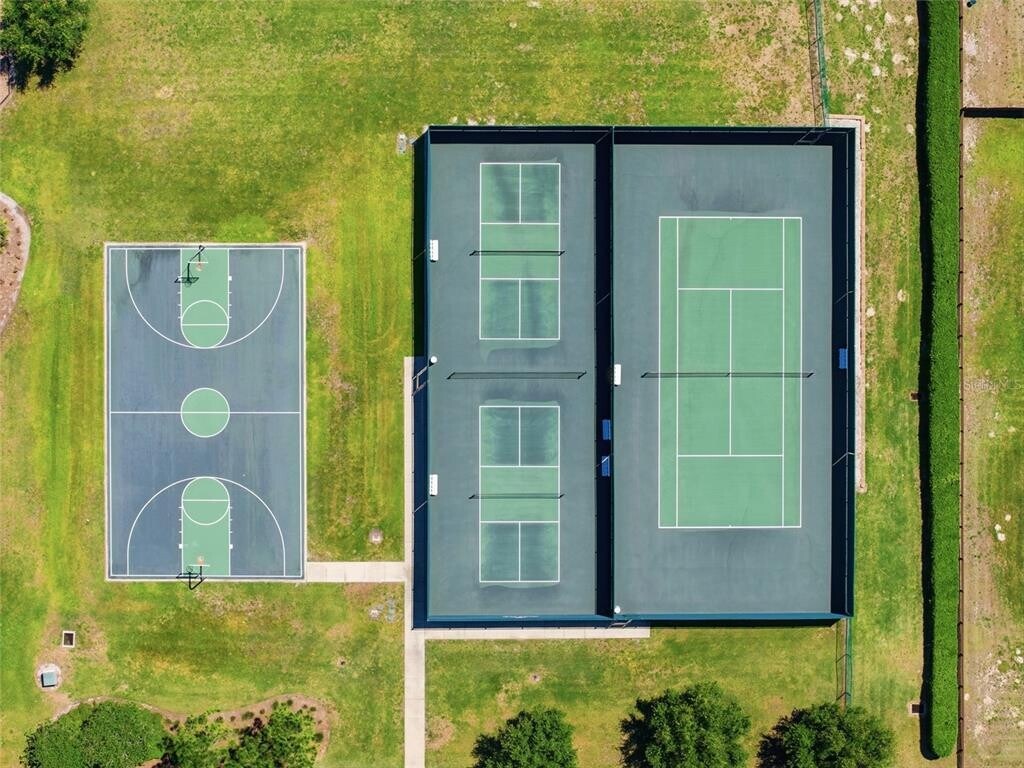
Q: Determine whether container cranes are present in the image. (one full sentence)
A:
No, the frame has no container crane in it.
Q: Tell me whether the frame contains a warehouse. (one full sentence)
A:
No, the scene contains no warehouse.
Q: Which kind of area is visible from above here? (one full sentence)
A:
It's a sports ground.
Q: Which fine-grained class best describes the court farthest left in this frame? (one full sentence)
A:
It looks like the court farthest left is a basketball court.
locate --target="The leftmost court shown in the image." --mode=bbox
[104,242,307,582]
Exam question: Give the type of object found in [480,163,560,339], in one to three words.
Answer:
sports court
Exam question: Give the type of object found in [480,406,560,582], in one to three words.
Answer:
sports court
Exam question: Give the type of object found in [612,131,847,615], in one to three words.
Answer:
tennis court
